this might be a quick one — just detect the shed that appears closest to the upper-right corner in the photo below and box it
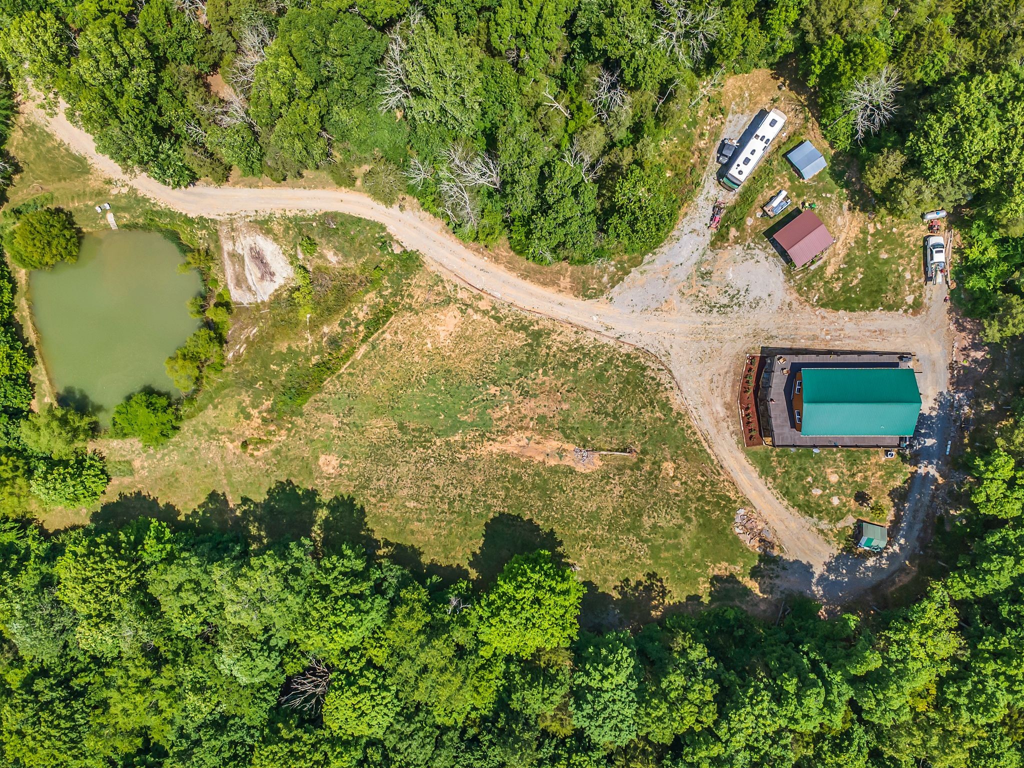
[784,141,827,182]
